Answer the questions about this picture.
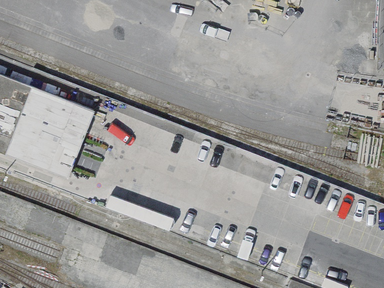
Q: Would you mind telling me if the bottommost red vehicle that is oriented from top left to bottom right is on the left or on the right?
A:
left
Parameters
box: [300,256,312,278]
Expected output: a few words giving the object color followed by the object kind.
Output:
gray vehicle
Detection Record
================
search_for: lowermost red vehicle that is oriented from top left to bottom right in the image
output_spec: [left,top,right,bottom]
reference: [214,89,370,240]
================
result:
[108,124,134,145]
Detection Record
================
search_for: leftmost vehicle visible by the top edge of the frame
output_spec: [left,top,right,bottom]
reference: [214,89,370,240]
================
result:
[170,2,196,16]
